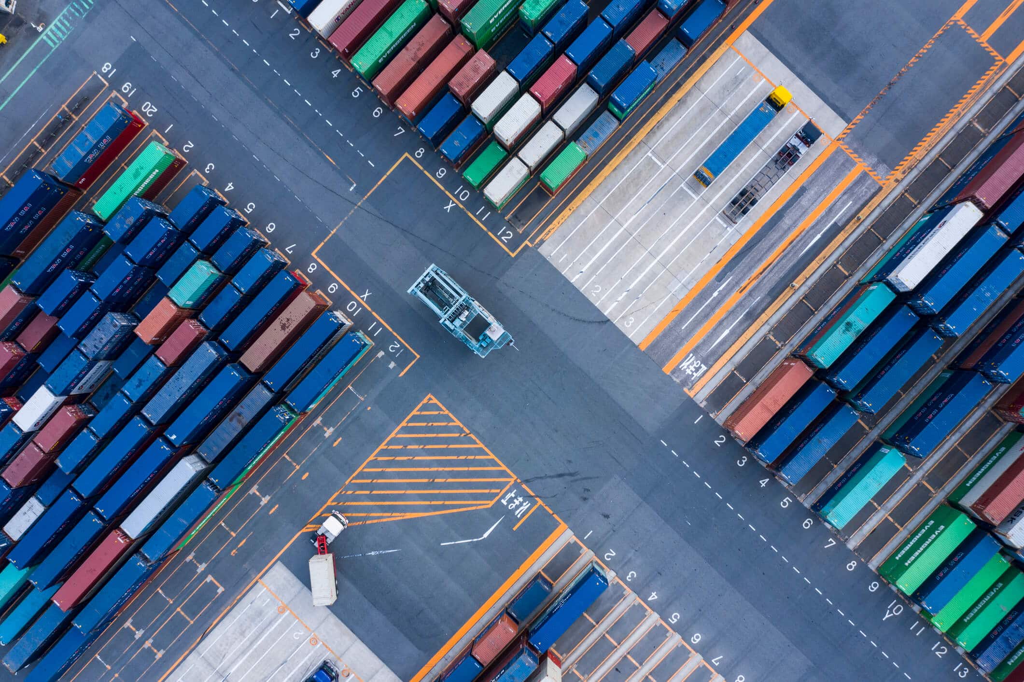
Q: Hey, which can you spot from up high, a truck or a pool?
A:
truck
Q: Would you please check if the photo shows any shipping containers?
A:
Yes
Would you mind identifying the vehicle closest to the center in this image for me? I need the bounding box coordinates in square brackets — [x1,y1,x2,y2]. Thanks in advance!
[407,263,512,361]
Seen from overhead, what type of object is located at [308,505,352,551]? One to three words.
truck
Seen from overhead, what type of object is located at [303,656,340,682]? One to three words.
truck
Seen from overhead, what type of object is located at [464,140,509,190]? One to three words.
shipping container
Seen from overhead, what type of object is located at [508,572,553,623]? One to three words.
shipping container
